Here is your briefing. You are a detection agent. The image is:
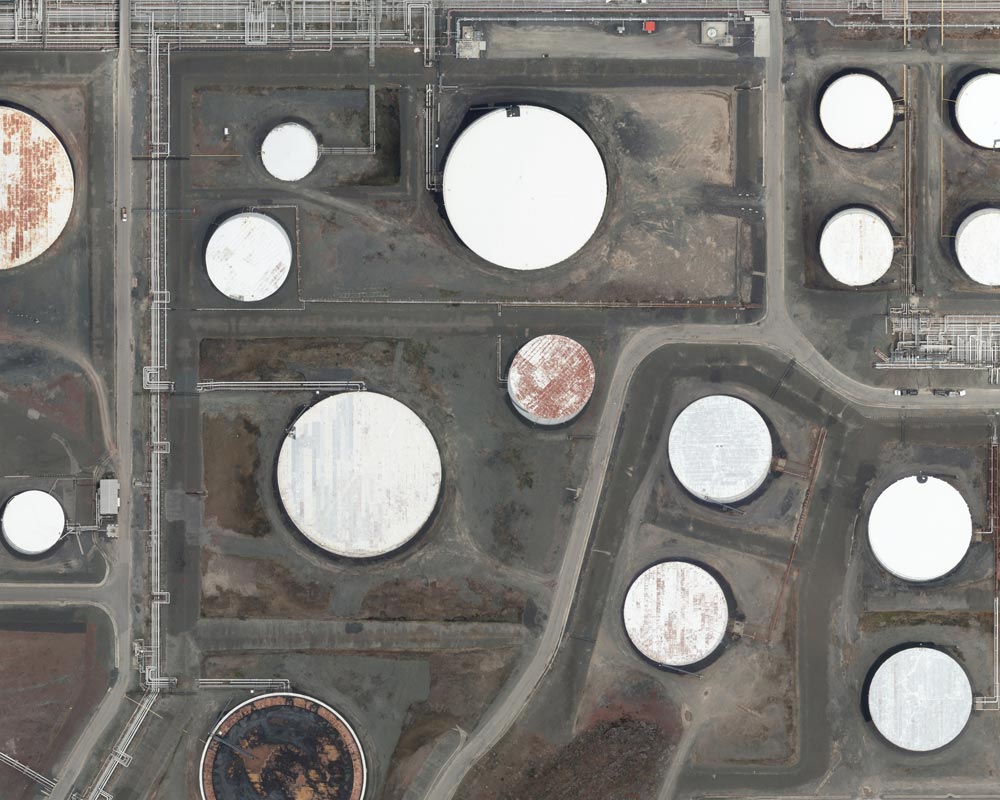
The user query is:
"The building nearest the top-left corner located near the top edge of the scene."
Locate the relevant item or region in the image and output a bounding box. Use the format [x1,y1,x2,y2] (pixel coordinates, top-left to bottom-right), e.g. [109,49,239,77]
[456,26,485,58]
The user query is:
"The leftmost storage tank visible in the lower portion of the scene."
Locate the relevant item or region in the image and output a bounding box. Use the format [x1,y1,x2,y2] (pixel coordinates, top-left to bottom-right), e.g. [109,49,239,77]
[0,488,68,557]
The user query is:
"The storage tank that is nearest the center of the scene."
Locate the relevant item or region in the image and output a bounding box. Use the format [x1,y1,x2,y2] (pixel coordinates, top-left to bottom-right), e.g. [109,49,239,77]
[504,334,598,428]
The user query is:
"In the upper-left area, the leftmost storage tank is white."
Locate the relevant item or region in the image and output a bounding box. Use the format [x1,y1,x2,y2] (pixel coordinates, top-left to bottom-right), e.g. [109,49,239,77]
[0,99,82,271]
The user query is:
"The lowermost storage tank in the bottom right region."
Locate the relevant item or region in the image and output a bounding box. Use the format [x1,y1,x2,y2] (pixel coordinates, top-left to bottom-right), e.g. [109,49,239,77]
[861,639,972,749]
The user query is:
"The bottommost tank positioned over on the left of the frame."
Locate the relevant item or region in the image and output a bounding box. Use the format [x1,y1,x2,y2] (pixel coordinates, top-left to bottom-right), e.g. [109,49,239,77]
[200,693,368,800]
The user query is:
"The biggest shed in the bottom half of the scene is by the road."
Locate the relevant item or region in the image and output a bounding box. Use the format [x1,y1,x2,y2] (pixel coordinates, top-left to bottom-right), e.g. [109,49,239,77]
[98,480,120,515]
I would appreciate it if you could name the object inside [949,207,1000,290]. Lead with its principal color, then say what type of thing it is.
white storage tank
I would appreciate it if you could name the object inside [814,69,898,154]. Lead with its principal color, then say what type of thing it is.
white storage tank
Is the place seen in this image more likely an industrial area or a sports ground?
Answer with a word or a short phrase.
industrial area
